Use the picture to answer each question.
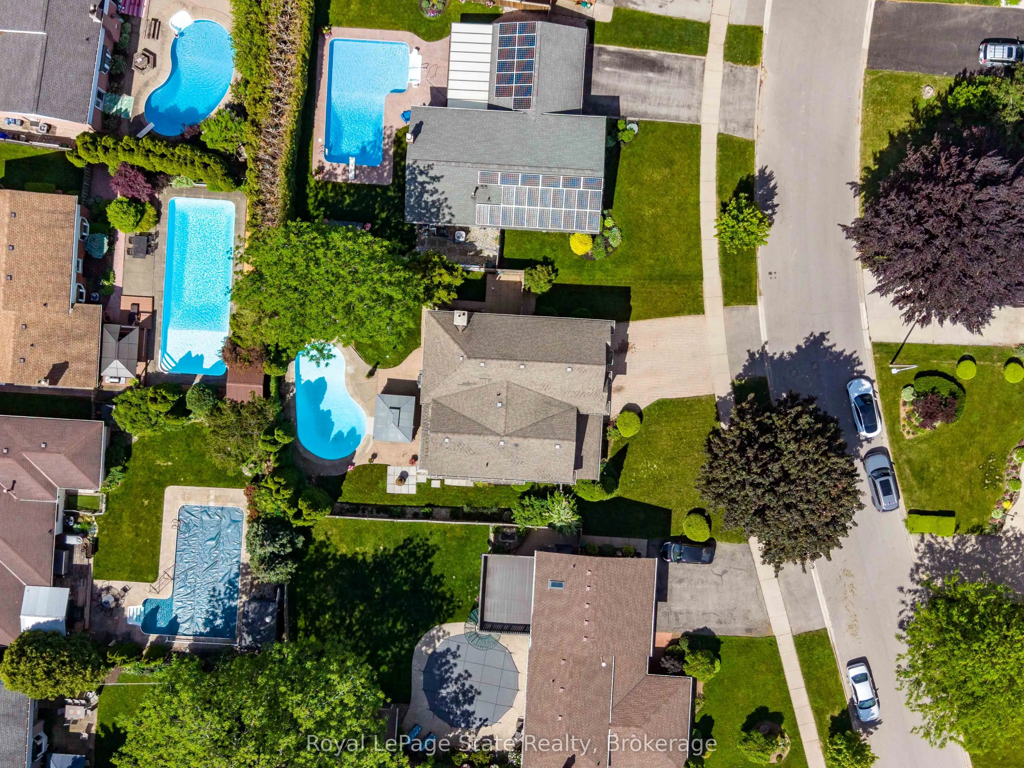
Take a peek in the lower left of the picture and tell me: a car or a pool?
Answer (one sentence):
Visible in the lower left of the picture is a pool.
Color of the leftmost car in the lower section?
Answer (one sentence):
The leftmost car in the lower section is black.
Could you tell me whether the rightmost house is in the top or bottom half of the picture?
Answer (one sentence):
Seen from above, the rightmost house lies in the bottom half of the view.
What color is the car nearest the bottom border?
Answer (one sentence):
From above, the car nearest the bottom border appears white.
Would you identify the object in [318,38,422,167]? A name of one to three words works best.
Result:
swimming pool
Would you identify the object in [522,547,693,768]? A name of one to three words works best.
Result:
house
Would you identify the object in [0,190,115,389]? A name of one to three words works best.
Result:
house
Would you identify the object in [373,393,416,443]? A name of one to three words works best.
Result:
gazebo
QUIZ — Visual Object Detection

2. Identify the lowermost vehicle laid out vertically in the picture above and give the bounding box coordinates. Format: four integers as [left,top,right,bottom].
[844,659,880,721]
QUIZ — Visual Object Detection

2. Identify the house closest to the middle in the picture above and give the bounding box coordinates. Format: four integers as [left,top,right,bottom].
[417,309,616,485]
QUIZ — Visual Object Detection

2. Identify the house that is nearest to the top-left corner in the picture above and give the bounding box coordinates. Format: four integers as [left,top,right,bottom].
[0,0,120,129]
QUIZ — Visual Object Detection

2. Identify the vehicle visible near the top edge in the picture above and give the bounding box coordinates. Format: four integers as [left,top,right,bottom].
[977,38,1024,67]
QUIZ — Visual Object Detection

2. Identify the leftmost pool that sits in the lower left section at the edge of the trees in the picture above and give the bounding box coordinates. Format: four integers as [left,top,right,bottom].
[127,505,244,640]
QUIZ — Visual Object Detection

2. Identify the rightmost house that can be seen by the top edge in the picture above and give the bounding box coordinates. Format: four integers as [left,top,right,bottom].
[404,21,607,235]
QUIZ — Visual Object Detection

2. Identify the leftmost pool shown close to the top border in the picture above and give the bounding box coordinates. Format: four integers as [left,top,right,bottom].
[144,10,235,136]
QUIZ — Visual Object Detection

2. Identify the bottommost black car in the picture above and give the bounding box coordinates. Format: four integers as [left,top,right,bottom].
[660,539,715,567]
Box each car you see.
[660,539,715,567]
[845,377,882,439]
[863,451,898,512]
[977,38,1024,67]
[844,659,880,721]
